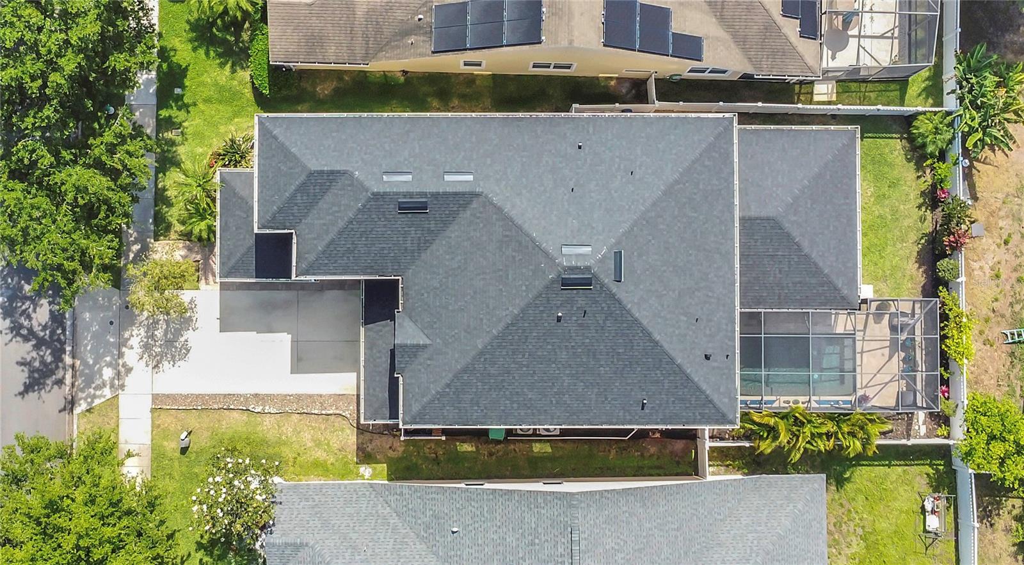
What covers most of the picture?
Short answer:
buildings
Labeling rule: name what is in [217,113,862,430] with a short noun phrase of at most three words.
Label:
house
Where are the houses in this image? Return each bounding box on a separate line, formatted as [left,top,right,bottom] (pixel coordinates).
[265,0,824,86]
[270,472,828,565]
[217,113,862,430]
